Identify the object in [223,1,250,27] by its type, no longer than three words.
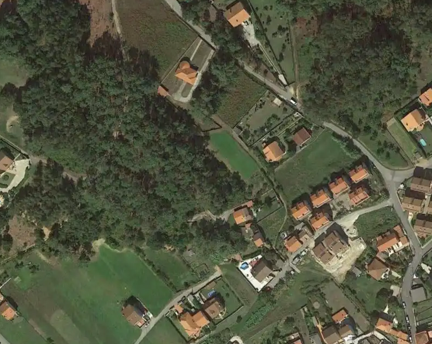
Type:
house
